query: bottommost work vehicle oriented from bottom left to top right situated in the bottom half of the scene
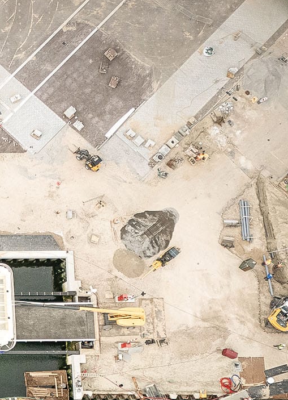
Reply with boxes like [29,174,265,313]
[137,241,192,281]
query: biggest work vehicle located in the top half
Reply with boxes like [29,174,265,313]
[66,138,110,174]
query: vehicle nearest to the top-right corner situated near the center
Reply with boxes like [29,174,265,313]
[158,164,171,180]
